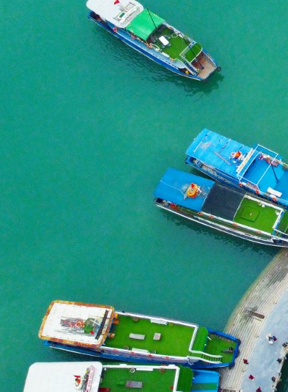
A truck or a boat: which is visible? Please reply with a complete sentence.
There is a boat in the scene.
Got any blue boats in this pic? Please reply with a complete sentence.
Yes, there is a blue boat in the image.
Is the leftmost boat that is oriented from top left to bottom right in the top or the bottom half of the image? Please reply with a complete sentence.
Seen from above, the leftmost boat that is oriented from top left to bottom right lies in the top half of the view.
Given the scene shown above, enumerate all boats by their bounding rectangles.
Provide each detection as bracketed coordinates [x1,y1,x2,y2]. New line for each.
[35,304,241,369]
[22,362,223,392]
[151,167,288,250]
[183,131,288,211]
[85,0,218,83]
